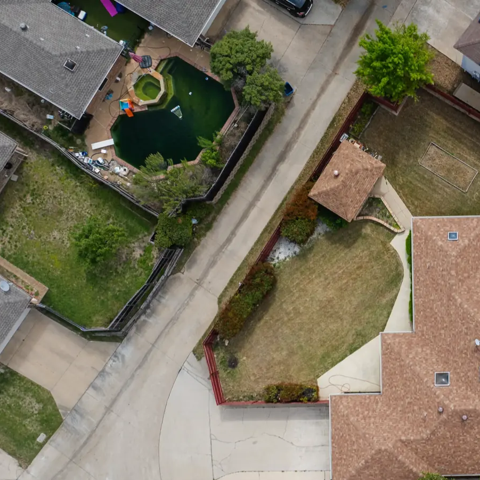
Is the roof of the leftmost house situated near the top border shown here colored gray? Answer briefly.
Yes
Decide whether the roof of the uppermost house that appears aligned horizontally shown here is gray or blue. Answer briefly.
gray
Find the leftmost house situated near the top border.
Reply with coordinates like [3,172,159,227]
[0,0,130,123]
